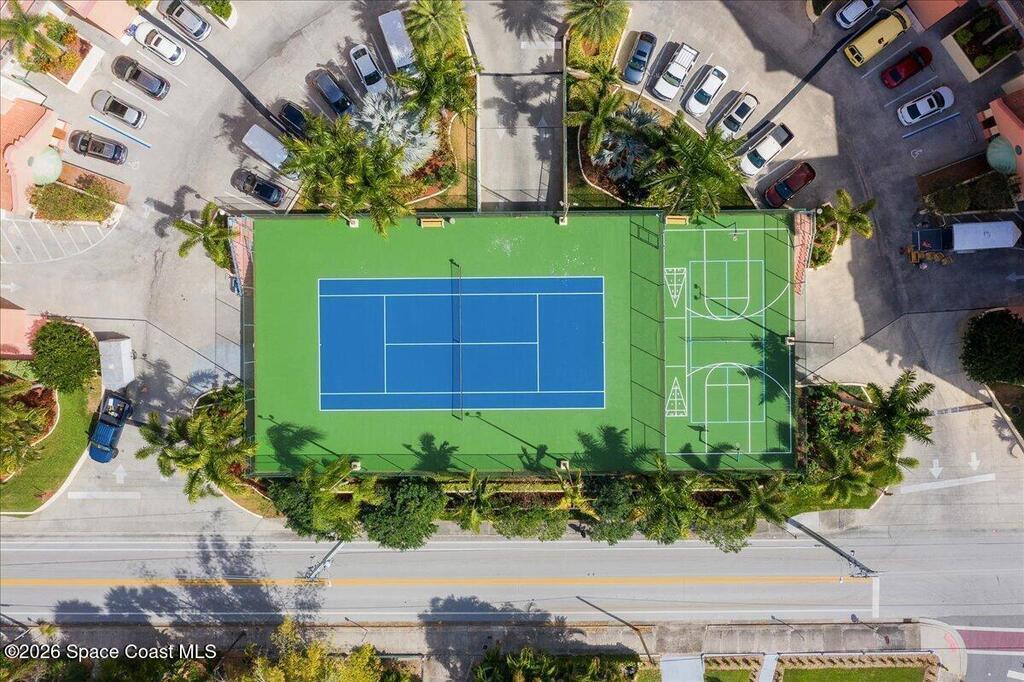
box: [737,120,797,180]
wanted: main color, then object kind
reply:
white truck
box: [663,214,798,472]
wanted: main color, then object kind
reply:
green basketball court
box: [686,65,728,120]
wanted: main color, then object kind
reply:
white car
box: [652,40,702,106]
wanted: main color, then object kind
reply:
white truck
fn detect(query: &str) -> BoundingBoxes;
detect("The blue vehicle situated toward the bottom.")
[91,392,135,463]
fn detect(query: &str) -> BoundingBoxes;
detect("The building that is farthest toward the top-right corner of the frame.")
[962,81,1024,219]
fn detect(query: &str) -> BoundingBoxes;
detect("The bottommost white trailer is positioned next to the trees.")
[99,341,138,395]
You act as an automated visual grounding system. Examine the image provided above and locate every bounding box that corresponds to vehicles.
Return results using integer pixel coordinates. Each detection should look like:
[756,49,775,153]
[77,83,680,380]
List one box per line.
[308,71,359,124]
[879,48,932,90]
[231,170,287,209]
[91,392,135,463]
[686,65,728,120]
[716,91,760,142]
[652,40,702,106]
[896,87,953,127]
[239,123,305,184]
[375,5,418,85]
[737,120,797,180]
[353,44,389,100]
[157,0,211,42]
[831,0,886,34]
[624,32,656,87]
[113,58,173,102]
[836,8,908,73]
[762,161,817,209]
[134,25,188,69]
[71,131,129,166]
[93,91,150,129]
